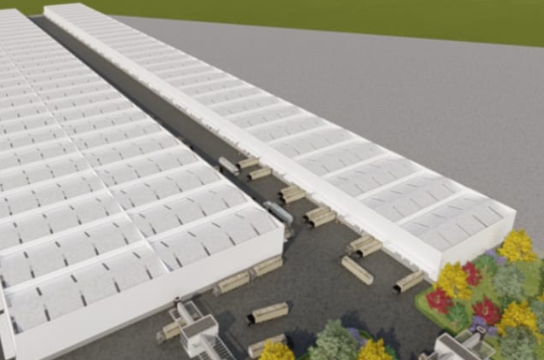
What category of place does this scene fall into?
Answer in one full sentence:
This looks like an industrial area.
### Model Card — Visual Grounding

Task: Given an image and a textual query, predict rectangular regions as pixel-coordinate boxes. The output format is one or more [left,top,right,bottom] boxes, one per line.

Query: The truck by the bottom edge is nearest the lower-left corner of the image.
[156,317,188,346]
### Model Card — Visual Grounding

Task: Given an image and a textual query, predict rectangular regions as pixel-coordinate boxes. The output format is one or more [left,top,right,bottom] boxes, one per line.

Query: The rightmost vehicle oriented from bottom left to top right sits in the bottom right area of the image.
[392,269,425,297]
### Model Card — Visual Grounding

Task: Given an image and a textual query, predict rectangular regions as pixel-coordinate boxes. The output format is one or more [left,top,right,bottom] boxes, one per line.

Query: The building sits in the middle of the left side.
[0,10,284,360]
